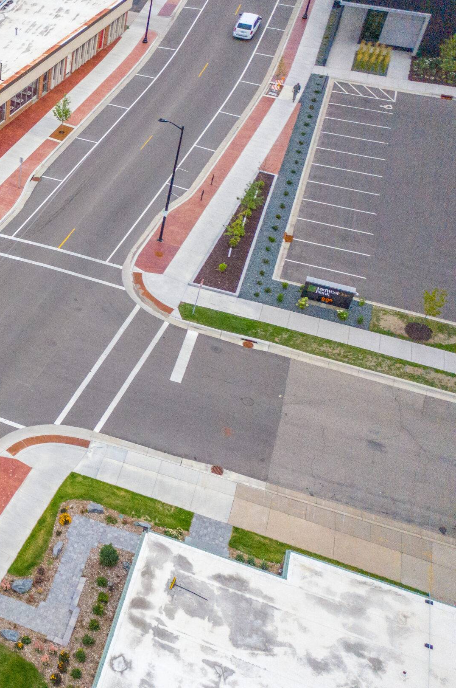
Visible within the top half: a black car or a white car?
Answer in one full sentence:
The one visible within the top half is a white car.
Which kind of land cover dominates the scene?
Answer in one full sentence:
The scene is dominated by paved ground.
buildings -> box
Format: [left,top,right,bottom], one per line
[0,0,131,127]
[315,0,456,54]
[94,534,456,688]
